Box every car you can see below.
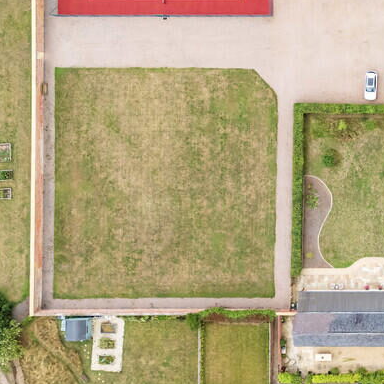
[365,71,377,100]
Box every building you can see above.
[65,316,93,340]
[293,286,384,347]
